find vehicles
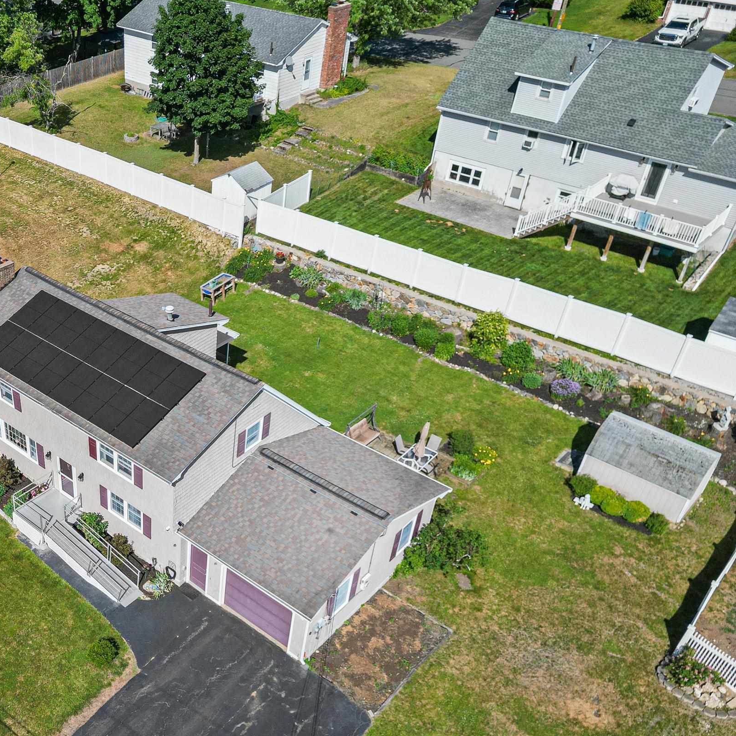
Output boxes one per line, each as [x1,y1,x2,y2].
[661,8,712,43]
[493,0,540,16]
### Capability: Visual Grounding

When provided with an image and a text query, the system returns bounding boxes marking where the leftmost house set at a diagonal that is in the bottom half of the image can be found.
[0,253,457,664]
